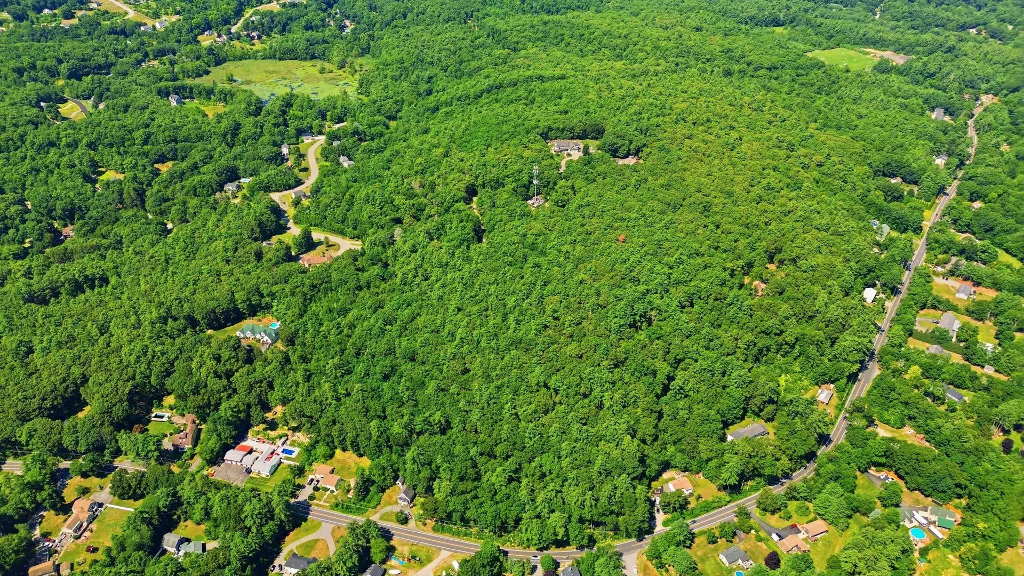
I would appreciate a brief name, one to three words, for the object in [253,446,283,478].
building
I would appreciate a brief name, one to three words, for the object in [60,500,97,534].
house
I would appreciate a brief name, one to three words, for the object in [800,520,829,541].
house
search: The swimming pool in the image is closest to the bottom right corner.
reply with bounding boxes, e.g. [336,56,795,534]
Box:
[909,526,927,540]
